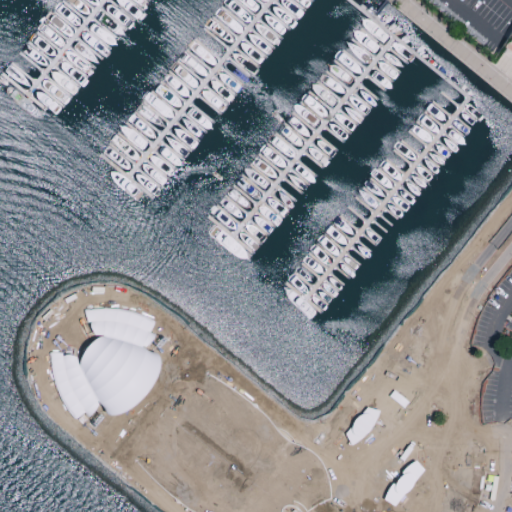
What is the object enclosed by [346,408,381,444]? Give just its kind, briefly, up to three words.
tent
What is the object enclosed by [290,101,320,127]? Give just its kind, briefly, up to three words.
boat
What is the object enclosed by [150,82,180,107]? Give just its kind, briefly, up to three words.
boat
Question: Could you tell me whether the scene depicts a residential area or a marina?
marina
